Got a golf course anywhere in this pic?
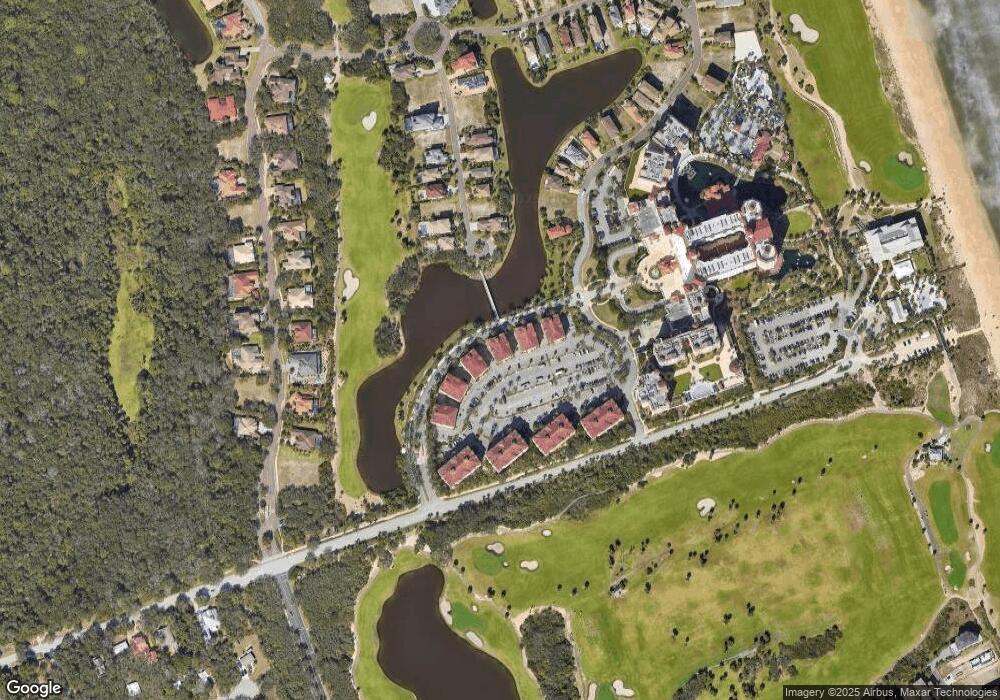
Yes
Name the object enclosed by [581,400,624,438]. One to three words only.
building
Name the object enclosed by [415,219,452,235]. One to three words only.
house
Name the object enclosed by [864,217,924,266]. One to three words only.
building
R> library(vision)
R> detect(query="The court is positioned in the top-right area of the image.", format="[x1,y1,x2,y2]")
[734,30,763,62]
